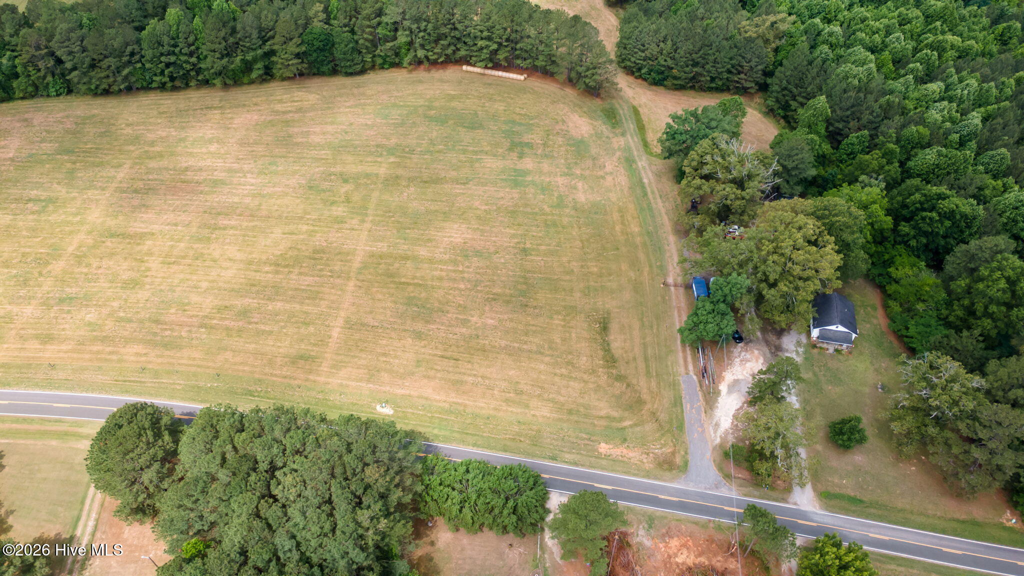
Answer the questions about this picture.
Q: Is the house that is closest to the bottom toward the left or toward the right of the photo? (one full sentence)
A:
The house that is closest to the bottom sits on the right side.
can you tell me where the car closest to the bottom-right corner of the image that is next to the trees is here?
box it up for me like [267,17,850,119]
[733,332,745,347]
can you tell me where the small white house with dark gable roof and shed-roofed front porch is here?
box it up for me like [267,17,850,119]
[807,292,858,355]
